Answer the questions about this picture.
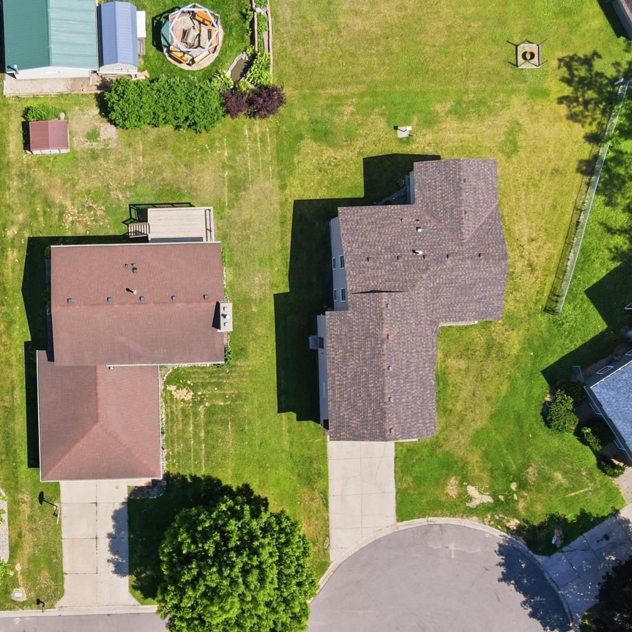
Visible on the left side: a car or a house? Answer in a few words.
house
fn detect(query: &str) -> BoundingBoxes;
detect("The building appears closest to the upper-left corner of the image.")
[2,0,100,78]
